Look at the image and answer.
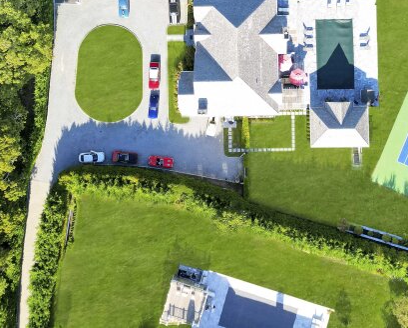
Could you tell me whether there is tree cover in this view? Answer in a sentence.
Yes, tree cover can be seen from above here.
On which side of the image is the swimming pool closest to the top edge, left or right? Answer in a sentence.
The swimming pool closest to the top edge appears in the right half of the scene.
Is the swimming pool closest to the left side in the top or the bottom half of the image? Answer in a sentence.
Seen from above, the swimming pool closest to the left side lies in the bottom half of the view.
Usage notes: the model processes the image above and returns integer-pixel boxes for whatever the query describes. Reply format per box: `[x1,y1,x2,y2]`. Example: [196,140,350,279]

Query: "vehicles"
[147,91,159,119]
[168,0,179,25]
[147,157,175,169]
[147,61,159,90]
[77,149,105,164]
[117,0,128,19]
[110,151,139,164]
